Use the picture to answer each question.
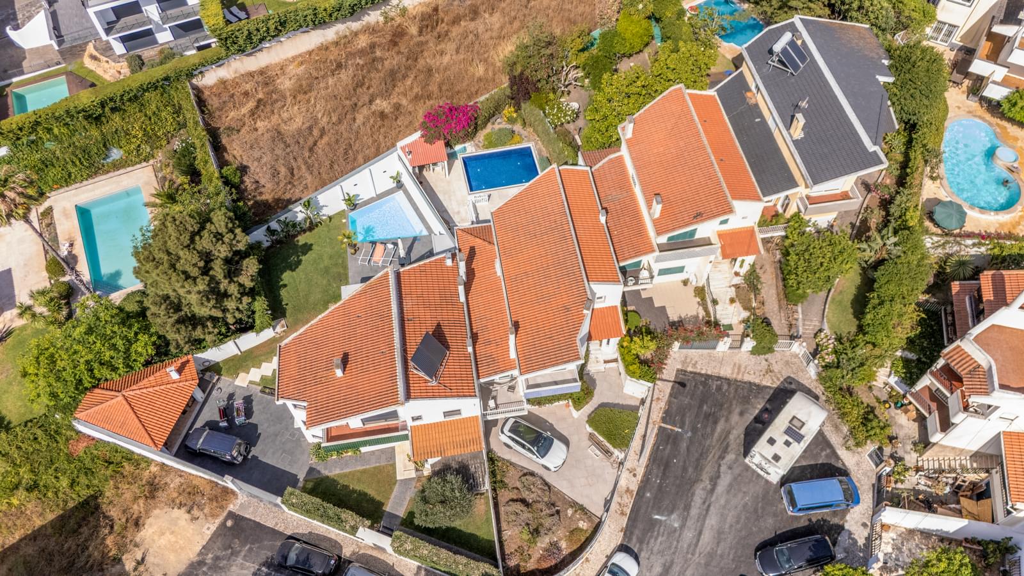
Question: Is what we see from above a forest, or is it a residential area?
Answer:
residential area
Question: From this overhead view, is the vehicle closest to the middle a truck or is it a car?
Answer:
car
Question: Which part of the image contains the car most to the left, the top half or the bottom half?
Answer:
bottom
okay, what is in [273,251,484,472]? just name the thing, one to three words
house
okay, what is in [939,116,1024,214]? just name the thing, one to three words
swimming pool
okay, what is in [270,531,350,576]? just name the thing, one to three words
car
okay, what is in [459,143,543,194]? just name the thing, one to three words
swimming pool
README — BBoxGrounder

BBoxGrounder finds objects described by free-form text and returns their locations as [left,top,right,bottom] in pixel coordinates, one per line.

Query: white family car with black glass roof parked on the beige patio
[496,414,568,472]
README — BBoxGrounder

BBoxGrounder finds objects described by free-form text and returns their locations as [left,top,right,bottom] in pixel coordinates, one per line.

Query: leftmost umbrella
[396,238,410,269]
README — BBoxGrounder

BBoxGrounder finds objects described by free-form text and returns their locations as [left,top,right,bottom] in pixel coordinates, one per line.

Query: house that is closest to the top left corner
[85,0,211,56]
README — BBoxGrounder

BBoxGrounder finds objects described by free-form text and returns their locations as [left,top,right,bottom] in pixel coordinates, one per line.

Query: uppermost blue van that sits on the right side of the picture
[776,472,863,521]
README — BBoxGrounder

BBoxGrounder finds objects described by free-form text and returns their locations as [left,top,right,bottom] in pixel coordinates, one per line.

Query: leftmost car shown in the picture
[181,424,252,469]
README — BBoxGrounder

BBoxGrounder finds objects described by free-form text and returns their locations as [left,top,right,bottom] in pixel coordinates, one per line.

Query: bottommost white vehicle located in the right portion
[592,546,641,576]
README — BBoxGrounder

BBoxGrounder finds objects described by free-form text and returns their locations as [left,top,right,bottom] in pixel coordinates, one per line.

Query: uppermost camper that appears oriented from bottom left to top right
[739,392,829,486]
